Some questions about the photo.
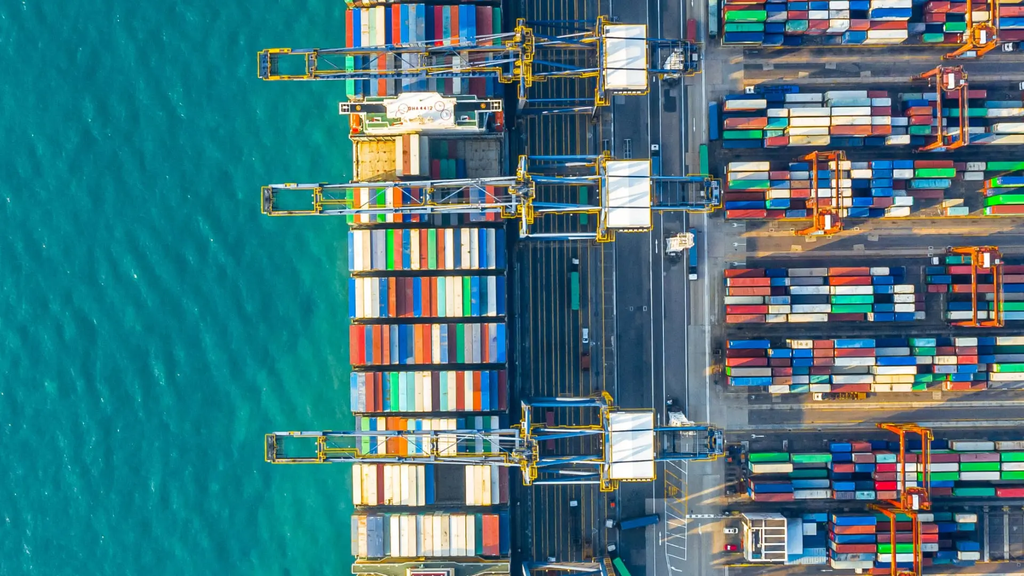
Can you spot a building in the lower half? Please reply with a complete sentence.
Yes, I can see a building in the lower half.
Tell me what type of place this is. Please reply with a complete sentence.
What you see here is a port.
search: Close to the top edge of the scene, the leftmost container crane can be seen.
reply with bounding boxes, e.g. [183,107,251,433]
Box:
[255,15,703,132]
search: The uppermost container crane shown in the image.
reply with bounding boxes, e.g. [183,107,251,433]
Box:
[941,0,999,58]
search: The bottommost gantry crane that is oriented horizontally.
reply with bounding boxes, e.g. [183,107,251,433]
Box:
[523,544,622,576]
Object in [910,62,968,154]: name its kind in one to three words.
container crane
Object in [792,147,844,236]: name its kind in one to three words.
container crane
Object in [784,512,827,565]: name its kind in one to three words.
shed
